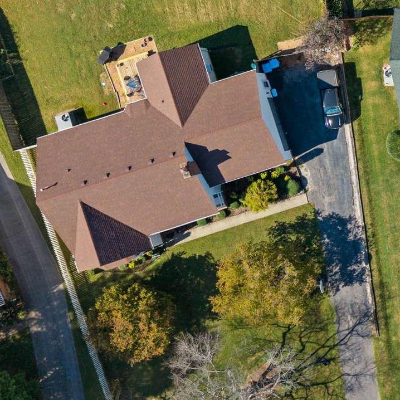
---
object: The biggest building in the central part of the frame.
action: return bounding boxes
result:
[31,43,292,273]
